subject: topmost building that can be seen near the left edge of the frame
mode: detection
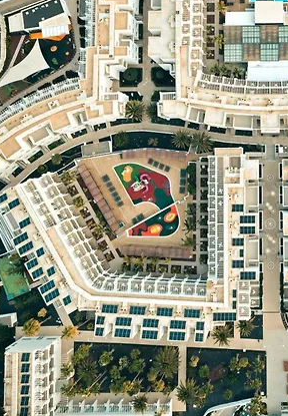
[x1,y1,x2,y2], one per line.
[8,0,77,38]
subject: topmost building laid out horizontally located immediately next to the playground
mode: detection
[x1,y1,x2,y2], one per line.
[81,141,115,157]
